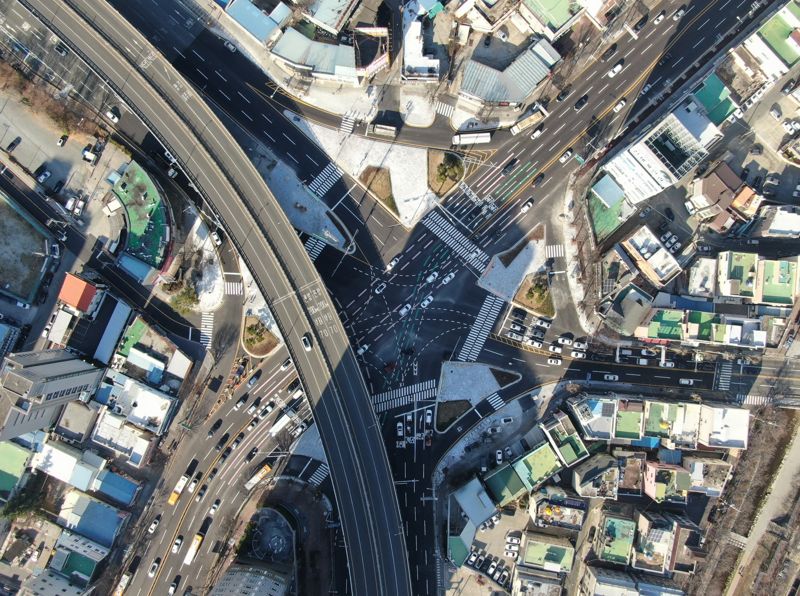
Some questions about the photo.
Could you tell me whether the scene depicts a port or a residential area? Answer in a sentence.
This image shows a residential area.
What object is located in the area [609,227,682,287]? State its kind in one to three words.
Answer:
house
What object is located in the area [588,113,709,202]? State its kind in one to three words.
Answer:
building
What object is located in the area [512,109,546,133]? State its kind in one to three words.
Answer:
bus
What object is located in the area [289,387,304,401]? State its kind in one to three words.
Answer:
vehicle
